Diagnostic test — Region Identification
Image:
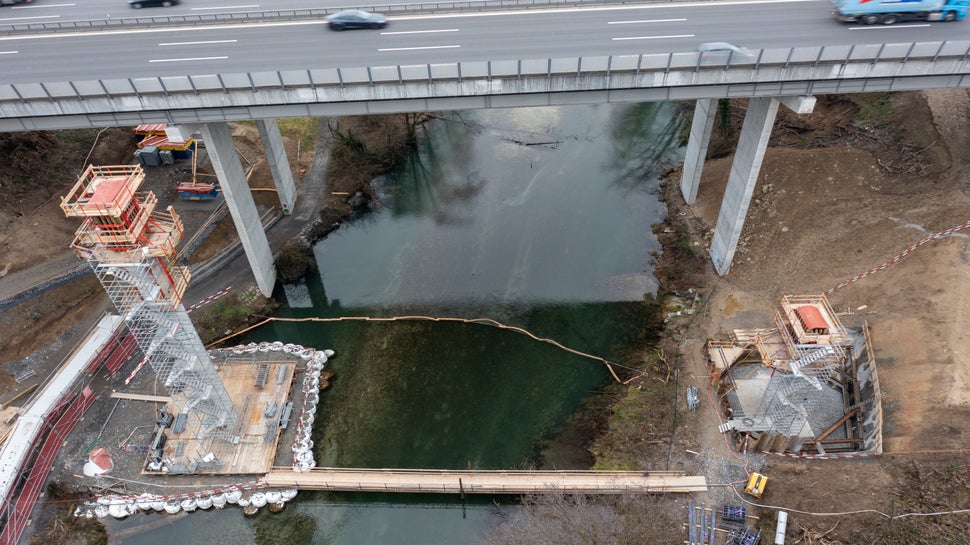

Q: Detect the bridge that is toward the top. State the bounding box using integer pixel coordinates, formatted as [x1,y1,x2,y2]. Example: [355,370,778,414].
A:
[0,0,970,301]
